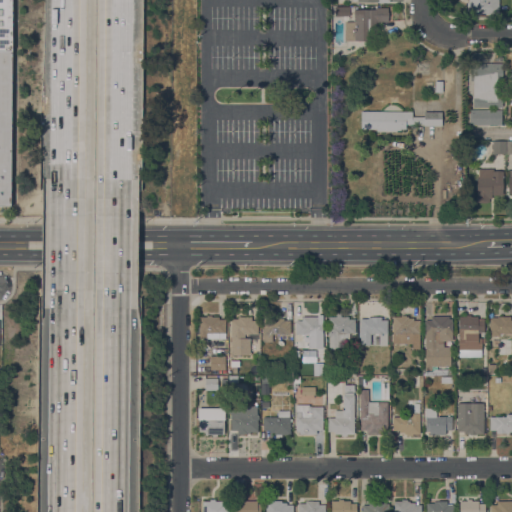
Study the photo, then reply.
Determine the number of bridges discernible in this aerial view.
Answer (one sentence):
Only 1 bridge is visible.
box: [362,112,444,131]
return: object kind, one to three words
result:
building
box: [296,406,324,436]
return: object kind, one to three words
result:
house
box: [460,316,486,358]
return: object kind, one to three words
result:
house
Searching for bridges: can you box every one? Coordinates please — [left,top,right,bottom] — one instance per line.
[44,180,140,318]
